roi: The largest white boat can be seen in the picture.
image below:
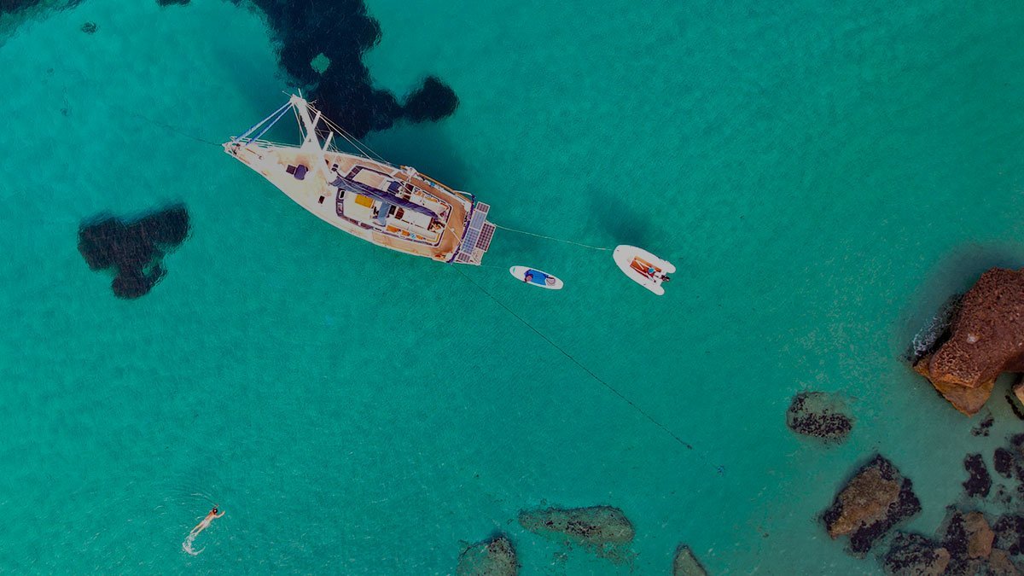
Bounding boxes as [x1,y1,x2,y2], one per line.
[219,88,496,265]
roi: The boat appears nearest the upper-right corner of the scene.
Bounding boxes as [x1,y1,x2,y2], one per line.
[613,244,673,295]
